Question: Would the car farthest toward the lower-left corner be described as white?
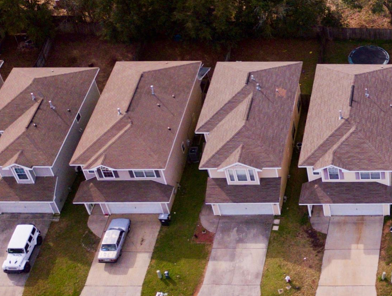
Yes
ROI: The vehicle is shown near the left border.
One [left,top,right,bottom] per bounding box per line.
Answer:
[0,220,41,269]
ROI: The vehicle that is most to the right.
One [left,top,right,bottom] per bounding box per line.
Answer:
[93,219,129,265]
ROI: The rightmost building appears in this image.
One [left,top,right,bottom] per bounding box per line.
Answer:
[298,63,392,216]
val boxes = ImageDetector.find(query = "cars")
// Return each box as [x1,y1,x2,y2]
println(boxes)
[0,220,41,269]
[93,219,129,265]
